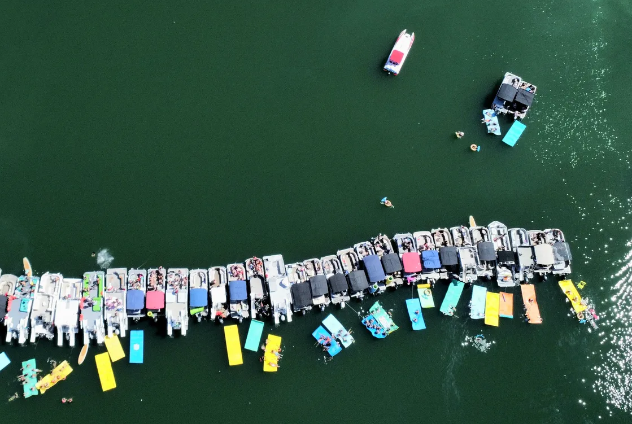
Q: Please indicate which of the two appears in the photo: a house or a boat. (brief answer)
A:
boat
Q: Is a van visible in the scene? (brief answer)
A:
No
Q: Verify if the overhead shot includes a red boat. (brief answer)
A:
Yes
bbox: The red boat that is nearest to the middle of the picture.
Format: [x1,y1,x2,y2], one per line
[395,234,422,281]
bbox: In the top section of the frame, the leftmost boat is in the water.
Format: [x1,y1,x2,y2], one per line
[382,30,415,78]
